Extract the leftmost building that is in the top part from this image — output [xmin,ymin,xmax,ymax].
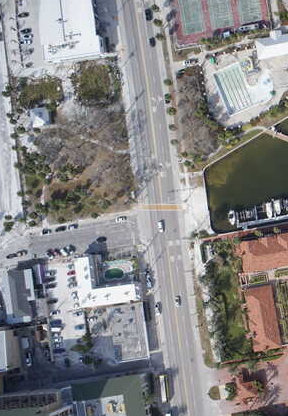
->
[30,107,53,128]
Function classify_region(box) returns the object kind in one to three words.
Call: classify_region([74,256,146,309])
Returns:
building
